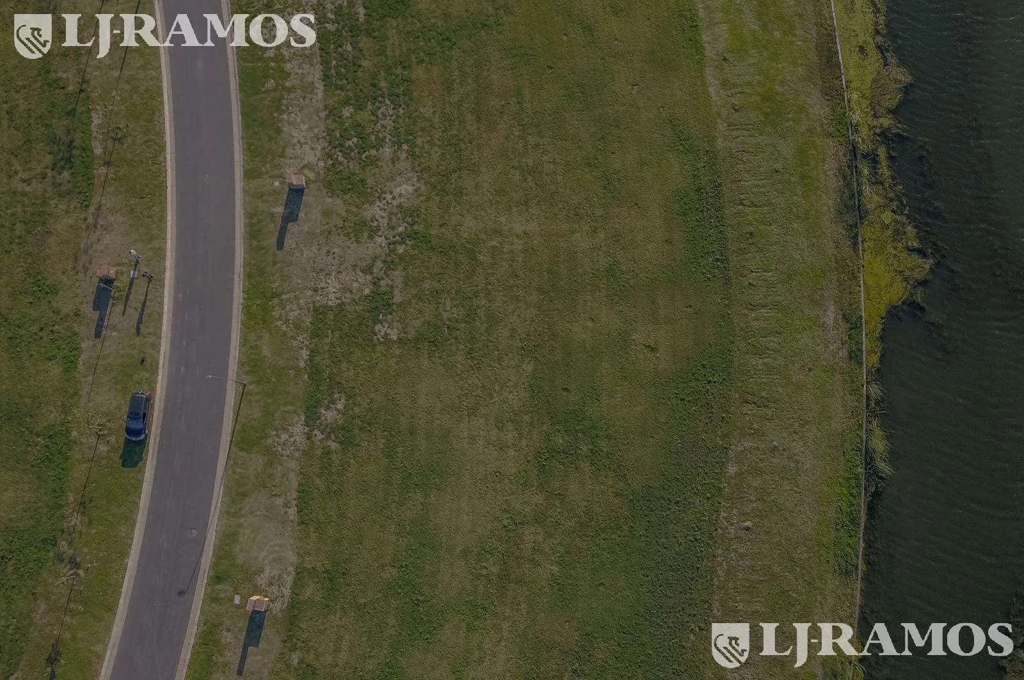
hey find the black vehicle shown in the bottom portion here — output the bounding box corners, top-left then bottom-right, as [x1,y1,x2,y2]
[121,391,155,442]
